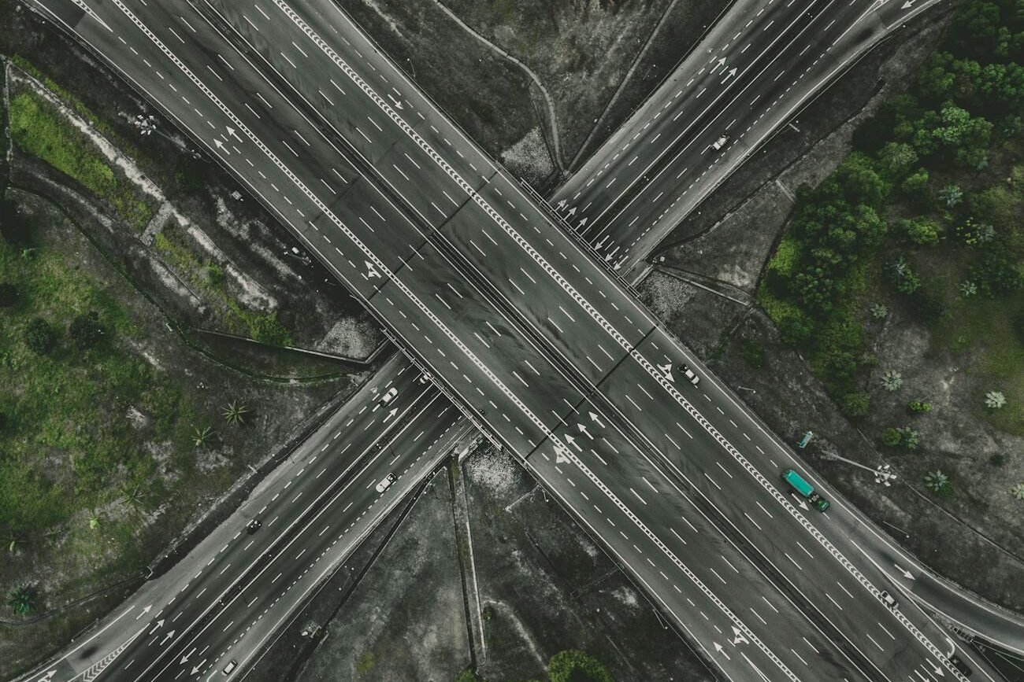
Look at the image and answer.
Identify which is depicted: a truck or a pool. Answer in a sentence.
The image shows a truck.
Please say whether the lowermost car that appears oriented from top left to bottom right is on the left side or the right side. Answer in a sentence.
It is on the right.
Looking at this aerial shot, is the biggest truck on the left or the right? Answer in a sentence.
The biggest truck is on the right side of the image.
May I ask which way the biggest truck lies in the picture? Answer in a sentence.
I'd say the biggest truck is aligned at an angle in the picture.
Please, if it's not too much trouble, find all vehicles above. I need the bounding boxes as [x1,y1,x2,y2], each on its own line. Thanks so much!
[220,659,239,678]
[950,657,974,680]
[709,128,734,152]
[376,386,399,409]
[374,472,398,495]
[243,518,262,537]
[881,591,901,611]
[678,362,702,387]
[416,373,433,388]
[785,471,836,516]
